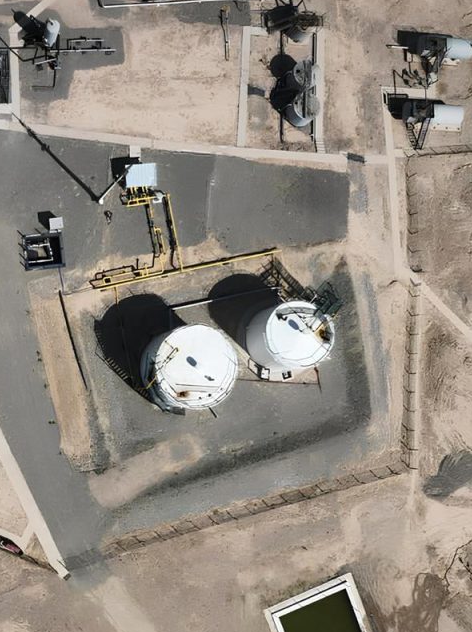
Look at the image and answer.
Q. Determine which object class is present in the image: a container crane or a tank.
tank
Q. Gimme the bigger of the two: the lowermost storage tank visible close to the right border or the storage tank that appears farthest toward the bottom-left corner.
the storage tank that appears farthest toward the bottom-left corner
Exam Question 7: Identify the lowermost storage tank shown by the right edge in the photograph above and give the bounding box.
[399,86,465,150]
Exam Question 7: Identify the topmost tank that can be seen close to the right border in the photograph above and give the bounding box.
[415,30,472,84]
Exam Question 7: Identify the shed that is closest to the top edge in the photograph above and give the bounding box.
[122,163,157,191]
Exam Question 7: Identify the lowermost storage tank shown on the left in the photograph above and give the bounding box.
[135,324,240,417]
